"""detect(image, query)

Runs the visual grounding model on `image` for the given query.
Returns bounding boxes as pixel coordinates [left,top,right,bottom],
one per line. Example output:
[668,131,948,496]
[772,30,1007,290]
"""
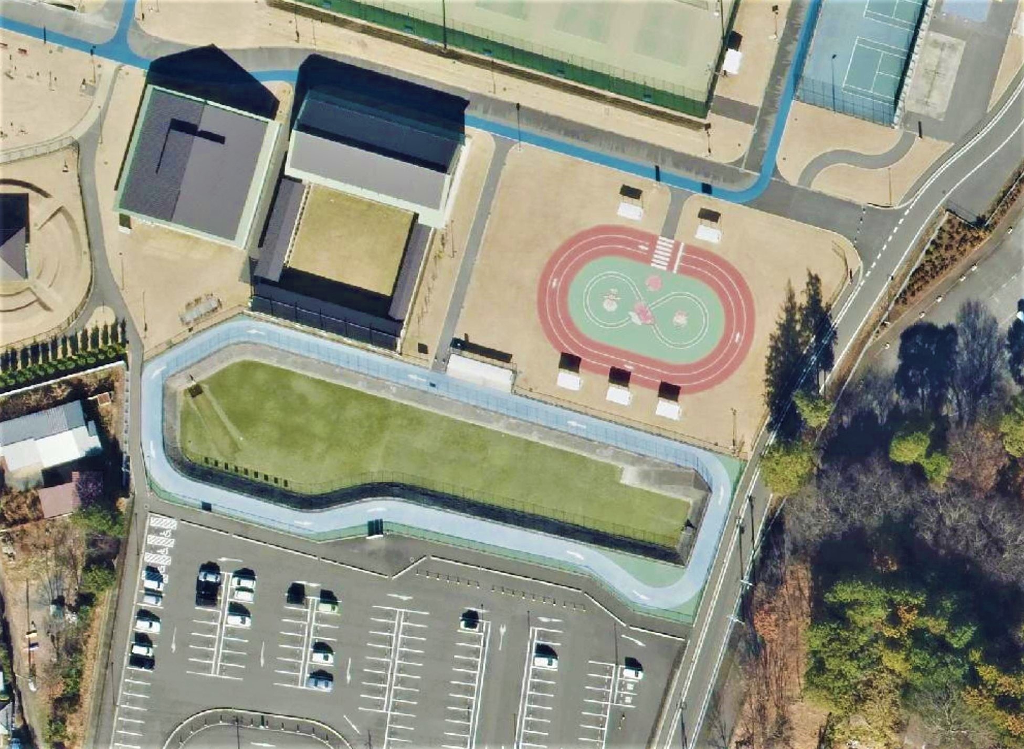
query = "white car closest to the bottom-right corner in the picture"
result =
[623,670,644,682]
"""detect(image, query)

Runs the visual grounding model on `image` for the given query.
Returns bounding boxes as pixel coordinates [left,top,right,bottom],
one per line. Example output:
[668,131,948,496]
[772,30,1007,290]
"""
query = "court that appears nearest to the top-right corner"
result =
[866,0,924,31]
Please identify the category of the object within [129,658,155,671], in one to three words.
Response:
vehicle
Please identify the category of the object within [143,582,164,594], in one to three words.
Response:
vehicle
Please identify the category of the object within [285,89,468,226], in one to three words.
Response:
building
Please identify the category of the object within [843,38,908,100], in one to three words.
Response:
tennis court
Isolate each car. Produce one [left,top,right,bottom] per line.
[312,654,333,665]
[135,622,160,635]
[195,583,220,596]
[623,670,644,682]
[234,592,254,603]
[318,604,338,615]
[307,680,333,693]
[142,597,162,608]
[198,572,220,583]
[232,578,256,590]
[459,620,481,632]
[534,658,558,671]
[227,617,251,629]
[143,582,164,594]
[129,658,155,671]
[194,596,218,608]
[131,648,153,659]
[285,596,305,606]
